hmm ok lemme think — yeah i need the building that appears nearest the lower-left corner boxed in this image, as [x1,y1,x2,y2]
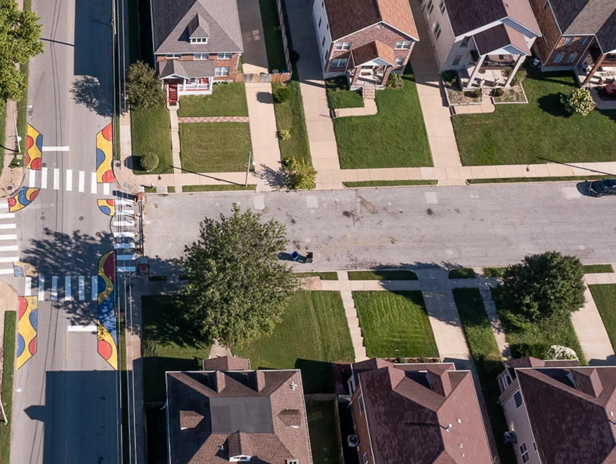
[163,352,314,464]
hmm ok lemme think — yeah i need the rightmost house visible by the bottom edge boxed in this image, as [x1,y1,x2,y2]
[489,344,616,464]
